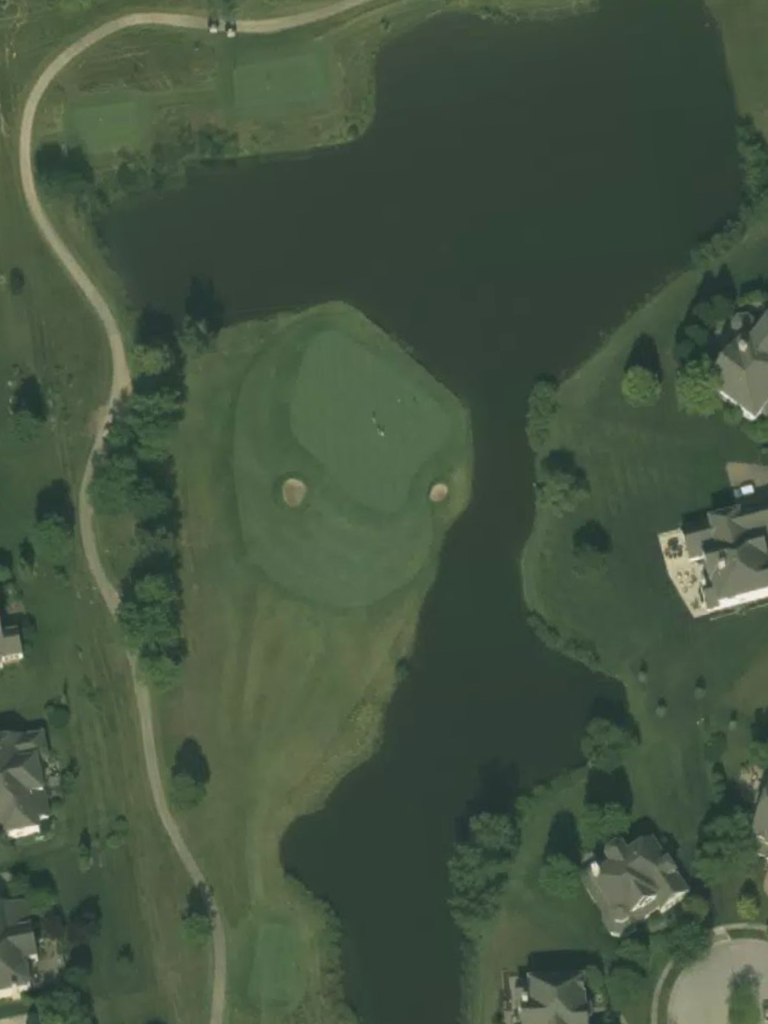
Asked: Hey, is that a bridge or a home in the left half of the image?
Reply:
home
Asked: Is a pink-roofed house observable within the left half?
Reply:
No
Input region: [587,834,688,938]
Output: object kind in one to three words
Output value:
house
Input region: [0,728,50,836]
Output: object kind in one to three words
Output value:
house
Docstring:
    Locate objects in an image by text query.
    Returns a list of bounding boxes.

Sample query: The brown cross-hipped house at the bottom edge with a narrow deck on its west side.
[521,971,589,1024]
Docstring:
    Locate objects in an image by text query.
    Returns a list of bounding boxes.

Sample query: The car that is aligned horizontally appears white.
[734,484,757,497]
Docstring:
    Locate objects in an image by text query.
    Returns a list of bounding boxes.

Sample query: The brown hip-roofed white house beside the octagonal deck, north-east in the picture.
[717,309,768,417]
